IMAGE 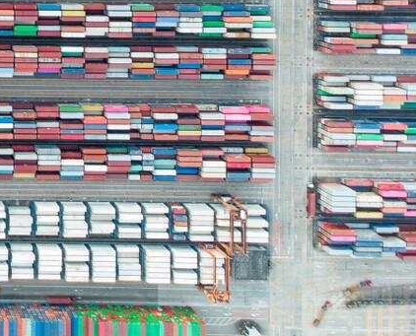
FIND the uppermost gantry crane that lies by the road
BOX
[209,189,248,255]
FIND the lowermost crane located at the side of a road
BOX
[194,236,232,304]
